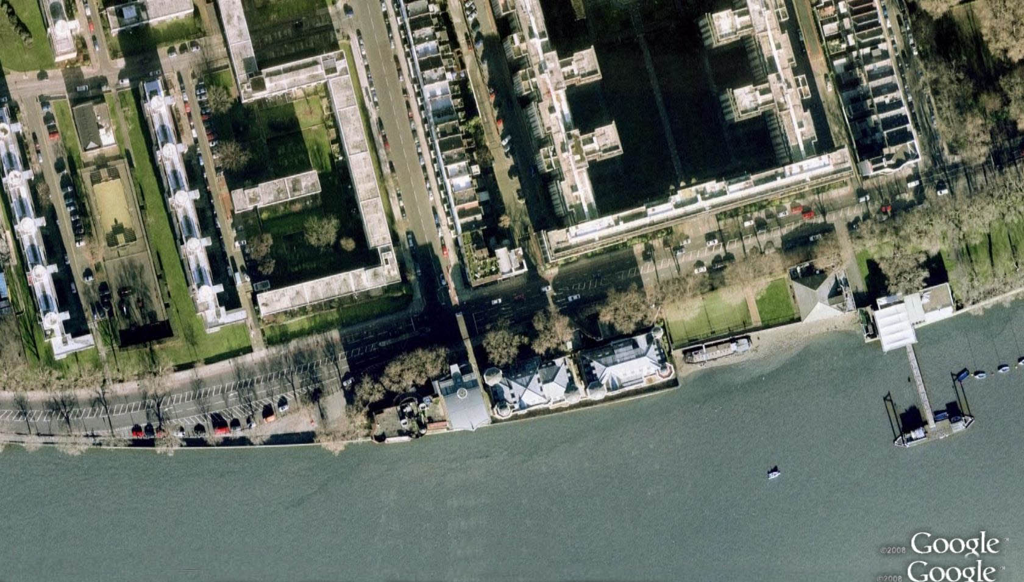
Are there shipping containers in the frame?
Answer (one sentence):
No, no shipping container is visible in the scene.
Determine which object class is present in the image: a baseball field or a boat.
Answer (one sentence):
This aerial view contains a boat.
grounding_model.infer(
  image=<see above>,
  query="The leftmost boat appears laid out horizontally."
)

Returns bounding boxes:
[683,336,752,364]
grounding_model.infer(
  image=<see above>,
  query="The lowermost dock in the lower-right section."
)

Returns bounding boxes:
[894,417,974,448]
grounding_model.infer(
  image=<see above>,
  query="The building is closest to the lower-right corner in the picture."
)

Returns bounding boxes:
[873,283,953,352]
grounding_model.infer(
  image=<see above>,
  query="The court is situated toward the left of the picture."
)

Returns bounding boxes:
[81,160,152,261]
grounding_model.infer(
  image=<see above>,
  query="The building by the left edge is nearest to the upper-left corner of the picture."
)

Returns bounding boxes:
[37,0,80,68]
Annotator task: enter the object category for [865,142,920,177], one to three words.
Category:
house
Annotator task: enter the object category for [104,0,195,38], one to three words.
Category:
building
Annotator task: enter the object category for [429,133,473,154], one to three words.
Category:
house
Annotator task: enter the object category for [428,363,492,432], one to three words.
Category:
building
